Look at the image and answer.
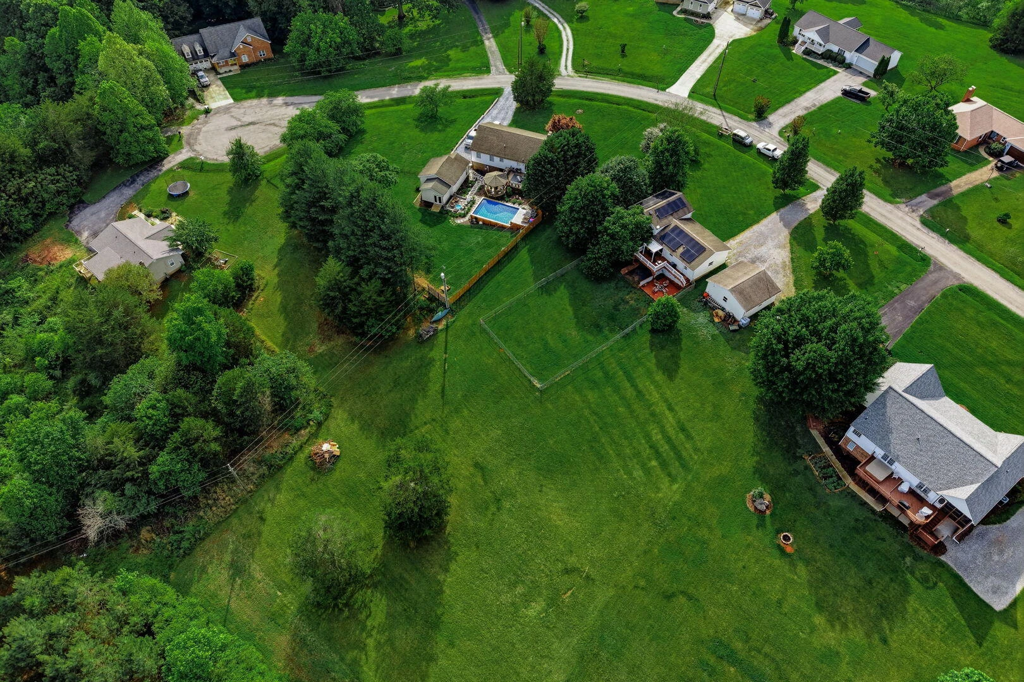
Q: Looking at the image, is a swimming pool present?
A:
Yes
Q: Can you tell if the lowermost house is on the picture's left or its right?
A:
right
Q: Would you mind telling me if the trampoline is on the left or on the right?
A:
left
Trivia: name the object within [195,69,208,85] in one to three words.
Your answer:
vehicle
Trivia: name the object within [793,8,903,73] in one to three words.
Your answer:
house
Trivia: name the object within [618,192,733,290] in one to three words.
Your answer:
house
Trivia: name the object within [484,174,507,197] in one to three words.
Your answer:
gazebo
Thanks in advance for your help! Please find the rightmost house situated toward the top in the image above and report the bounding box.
[932,84,1024,173]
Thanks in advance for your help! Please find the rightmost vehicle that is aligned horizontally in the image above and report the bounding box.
[843,86,870,99]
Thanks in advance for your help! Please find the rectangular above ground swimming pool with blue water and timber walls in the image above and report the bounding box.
[472,197,535,234]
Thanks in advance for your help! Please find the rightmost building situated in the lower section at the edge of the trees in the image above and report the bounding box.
[840,357,1024,550]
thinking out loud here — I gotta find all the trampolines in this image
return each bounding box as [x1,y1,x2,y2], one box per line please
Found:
[162,177,190,199]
